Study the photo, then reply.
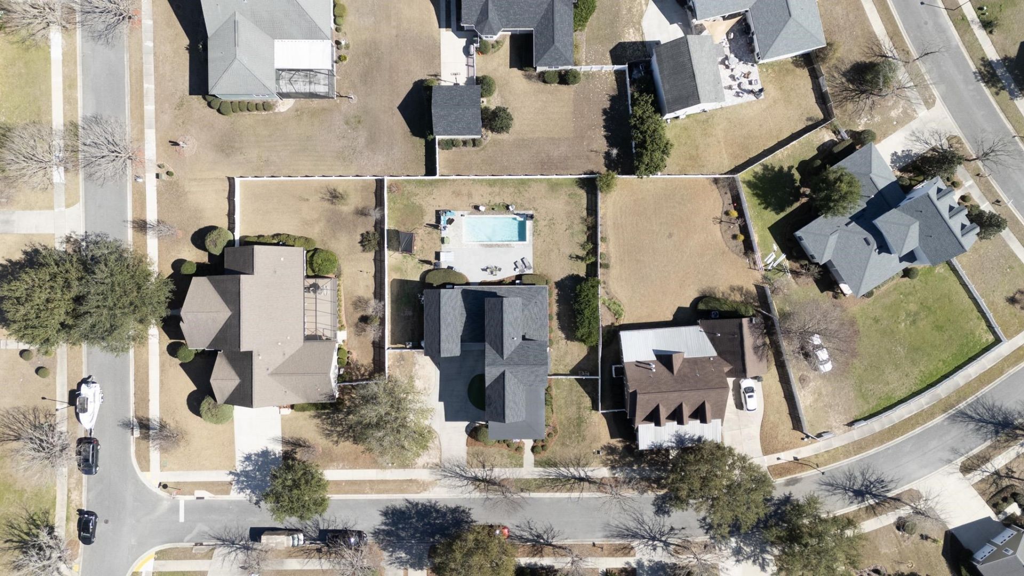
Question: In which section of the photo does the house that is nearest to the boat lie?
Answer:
left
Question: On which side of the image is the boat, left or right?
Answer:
left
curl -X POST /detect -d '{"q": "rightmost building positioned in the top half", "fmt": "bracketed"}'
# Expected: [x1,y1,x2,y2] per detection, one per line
[793,142,980,298]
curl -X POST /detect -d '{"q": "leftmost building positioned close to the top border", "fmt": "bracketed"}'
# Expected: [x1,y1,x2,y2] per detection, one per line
[201,0,336,102]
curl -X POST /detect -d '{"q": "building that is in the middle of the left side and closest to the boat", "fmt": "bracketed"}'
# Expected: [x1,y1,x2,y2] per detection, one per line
[181,246,341,410]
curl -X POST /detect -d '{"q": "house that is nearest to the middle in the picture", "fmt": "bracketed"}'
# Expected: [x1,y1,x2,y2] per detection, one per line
[424,286,548,439]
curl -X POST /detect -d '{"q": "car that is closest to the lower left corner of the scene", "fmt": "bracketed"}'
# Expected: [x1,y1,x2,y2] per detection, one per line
[78,511,96,542]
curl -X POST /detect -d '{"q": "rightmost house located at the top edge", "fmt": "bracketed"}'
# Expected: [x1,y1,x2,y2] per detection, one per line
[688,0,826,68]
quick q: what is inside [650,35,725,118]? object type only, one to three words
building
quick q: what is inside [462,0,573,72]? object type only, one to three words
house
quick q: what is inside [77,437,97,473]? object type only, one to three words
car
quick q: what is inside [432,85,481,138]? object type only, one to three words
building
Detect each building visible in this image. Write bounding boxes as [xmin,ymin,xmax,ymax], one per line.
[793,142,980,298]
[432,85,481,138]
[612,317,767,449]
[181,246,341,410]
[650,35,725,118]
[424,286,548,439]
[201,0,336,102]
[462,0,573,72]
[688,0,826,68]
[971,530,1024,576]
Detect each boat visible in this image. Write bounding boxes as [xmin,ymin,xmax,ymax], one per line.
[73,382,95,434]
